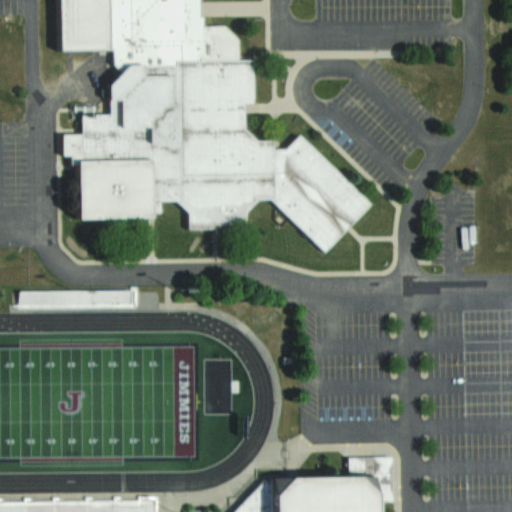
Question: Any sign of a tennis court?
No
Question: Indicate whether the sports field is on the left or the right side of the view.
left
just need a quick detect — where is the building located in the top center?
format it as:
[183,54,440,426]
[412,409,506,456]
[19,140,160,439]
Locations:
[62,0,374,253]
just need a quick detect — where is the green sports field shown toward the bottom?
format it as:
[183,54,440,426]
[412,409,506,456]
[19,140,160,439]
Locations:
[0,340,198,466]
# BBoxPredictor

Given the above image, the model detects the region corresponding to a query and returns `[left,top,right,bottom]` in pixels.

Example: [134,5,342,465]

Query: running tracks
[0,313,273,492]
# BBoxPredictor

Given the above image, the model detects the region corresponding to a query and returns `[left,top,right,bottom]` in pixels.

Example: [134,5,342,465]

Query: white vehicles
[470,226,476,246]
[462,226,469,252]
[454,378,464,384]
